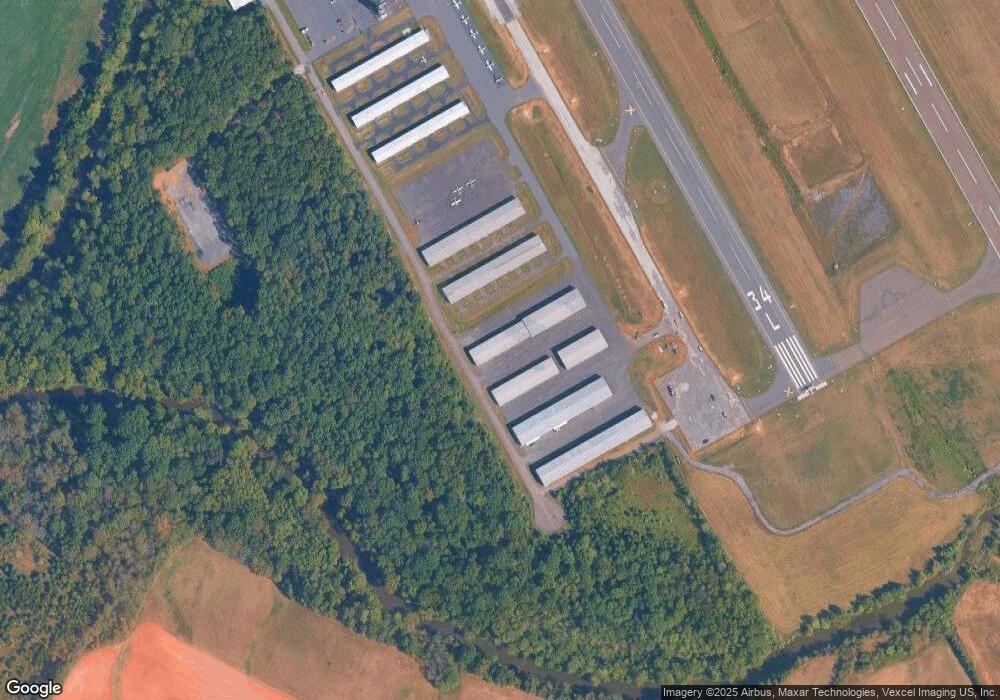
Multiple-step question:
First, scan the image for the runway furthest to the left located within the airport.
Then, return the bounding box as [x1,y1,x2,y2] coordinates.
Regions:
[572,0,826,399]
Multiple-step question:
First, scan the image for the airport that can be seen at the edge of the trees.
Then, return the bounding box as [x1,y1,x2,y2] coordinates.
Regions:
[284,0,1000,494]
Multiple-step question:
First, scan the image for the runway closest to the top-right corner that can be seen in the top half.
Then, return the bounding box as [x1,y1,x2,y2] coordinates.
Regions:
[855,0,1000,257]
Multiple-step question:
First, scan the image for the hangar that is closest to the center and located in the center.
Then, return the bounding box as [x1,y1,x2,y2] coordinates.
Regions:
[470,320,532,366]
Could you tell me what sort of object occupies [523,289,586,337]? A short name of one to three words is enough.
hangar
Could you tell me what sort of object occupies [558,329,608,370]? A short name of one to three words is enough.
hangar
